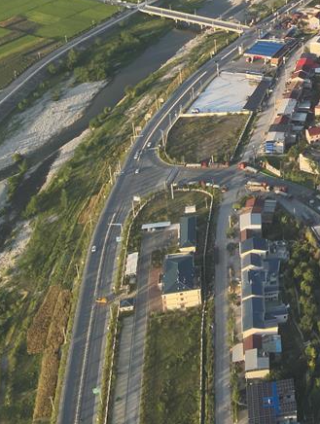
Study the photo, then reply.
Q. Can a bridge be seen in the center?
No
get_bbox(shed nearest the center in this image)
[141,214,171,231]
